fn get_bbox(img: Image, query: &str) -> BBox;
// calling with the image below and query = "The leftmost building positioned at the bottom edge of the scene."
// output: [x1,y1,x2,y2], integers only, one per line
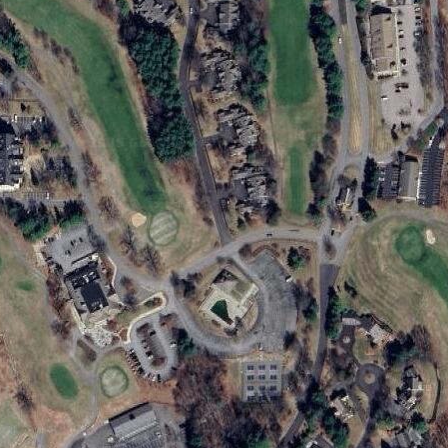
[108,401,157,438]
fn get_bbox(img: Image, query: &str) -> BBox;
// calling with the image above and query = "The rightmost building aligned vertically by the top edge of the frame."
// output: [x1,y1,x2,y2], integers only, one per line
[369,14,400,74]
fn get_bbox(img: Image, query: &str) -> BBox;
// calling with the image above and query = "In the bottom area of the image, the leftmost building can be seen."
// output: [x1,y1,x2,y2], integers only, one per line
[62,256,112,320]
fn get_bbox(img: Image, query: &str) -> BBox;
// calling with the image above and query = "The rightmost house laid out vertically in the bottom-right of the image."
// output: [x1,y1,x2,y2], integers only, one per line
[403,367,423,410]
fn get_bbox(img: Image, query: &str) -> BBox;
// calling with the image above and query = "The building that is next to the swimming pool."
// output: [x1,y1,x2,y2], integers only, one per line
[216,276,254,302]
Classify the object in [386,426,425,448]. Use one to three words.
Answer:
house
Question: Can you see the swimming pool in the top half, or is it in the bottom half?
bottom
